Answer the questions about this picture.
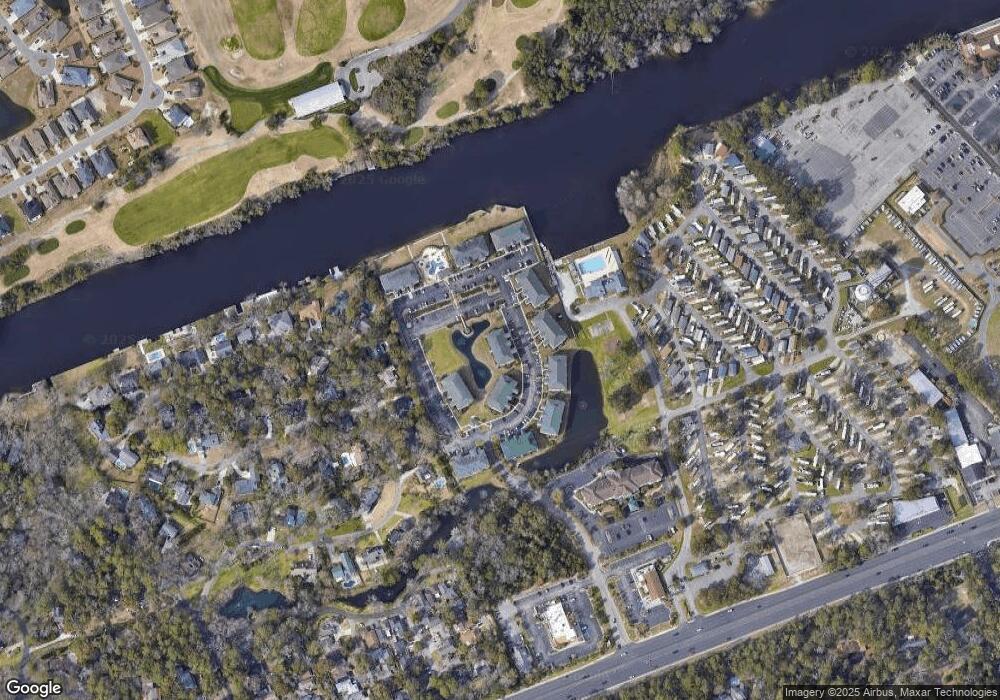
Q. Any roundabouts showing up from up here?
No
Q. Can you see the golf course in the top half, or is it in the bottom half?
top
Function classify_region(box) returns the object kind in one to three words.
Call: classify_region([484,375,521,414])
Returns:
building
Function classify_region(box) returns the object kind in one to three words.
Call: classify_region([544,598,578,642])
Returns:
building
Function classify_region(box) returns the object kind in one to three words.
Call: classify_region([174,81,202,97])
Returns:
house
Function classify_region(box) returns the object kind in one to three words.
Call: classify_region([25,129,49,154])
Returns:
house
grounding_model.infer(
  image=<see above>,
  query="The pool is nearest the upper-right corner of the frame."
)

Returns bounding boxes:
[574,247,619,284]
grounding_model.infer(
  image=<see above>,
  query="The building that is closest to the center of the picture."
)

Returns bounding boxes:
[483,328,519,369]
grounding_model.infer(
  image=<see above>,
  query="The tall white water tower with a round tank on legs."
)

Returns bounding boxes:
[854,283,875,312]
